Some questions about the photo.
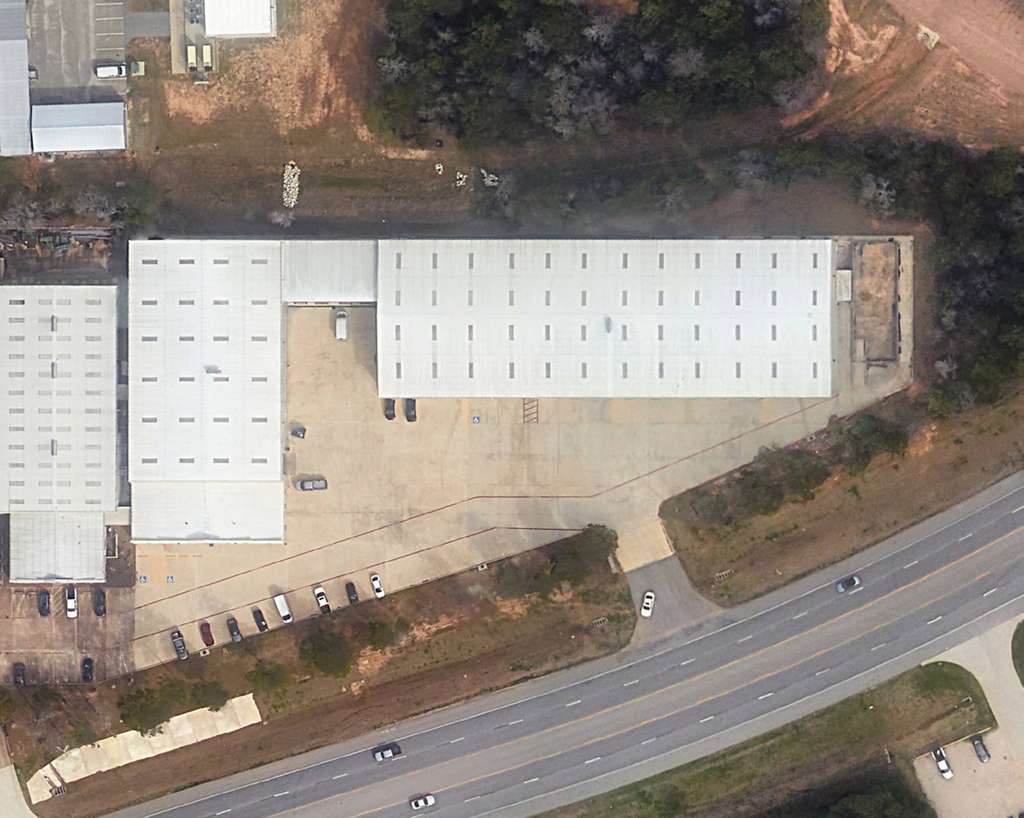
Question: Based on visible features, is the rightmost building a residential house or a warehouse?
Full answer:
The rightmost building is a warehouse.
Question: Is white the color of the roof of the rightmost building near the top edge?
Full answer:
Yes, the roof of the rightmost building near the top edge appears white.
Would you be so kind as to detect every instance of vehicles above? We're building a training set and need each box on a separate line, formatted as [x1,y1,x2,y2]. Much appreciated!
[642,591,654,617]
[315,585,332,614]
[335,312,348,340]
[227,618,242,642]
[384,398,396,420]
[405,398,416,422]
[274,593,292,624]
[410,794,435,810]
[370,573,385,598]
[65,586,79,618]
[171,629,189,660]
[95,65,127,78]
[252,606,268,632]
[38,591,51,616]
[372,743,402,761]
[836,575,861,593]
[95,591,106,616]
[346,581,359,604]
[186,44,199,73]
[973,739,989,763]
[201,622,214,646]
[295,479,328,491]
[13,662,25,684]
[932,746,952,779]
[82,657,94,681]
[201,43,214,72]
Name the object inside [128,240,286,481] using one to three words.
warehouse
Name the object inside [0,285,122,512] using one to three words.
building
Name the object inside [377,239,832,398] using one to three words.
warehouse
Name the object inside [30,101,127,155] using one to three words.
shed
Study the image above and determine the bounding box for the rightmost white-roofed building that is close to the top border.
[206,0,278,44]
